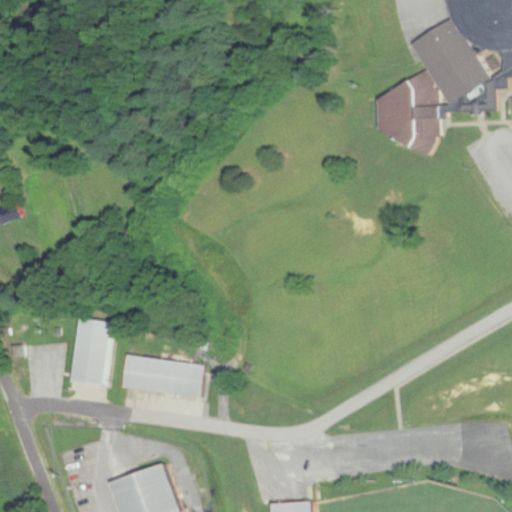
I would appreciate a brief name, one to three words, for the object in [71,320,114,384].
building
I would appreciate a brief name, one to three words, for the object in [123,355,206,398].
shed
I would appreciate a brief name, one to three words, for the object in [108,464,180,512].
building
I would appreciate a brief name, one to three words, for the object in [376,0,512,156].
church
